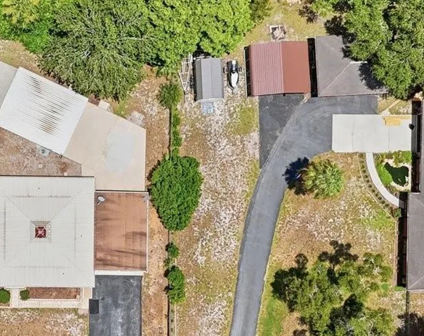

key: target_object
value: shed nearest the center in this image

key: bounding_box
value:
[193,57,223,102]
